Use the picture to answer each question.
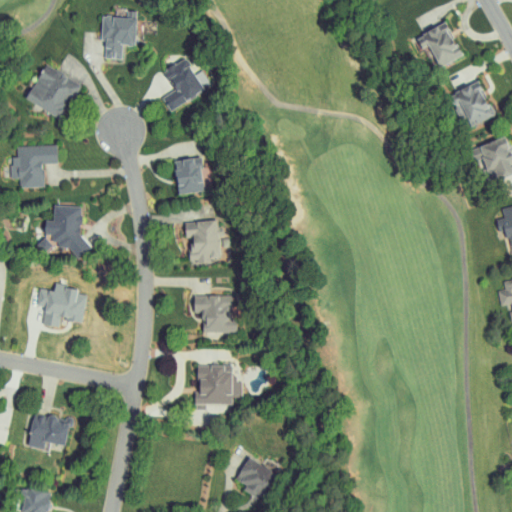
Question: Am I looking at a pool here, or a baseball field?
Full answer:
Visible in the photo is a pool.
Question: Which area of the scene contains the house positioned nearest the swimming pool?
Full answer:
You can find the house positioned nearest the swimming pool in the bottom area of the picture.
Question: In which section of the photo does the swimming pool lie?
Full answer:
Look in the bottom portion of the view to spot the swimming pool.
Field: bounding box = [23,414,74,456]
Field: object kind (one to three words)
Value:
house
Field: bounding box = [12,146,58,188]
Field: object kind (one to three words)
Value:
house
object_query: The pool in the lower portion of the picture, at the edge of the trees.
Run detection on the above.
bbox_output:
[244,366,270,396]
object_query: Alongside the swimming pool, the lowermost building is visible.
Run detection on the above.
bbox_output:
[196,364,243,405]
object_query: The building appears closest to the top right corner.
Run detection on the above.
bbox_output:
[415,19,467,69]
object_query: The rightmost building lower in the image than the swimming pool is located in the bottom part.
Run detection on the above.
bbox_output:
[236,456,273,500]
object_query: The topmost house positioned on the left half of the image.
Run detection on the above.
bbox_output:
[102,11,138,60]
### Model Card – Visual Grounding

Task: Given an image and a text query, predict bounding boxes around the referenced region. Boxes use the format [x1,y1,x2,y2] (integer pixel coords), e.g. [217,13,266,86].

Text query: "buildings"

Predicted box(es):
[184,216,230,264]
[500,280,512,320]
[470,134,512,182]
[161,60,210,112]
[415,19,467,69]
[37,282,87,328]
[194,294,238,333]
[102,11,138,60]
[17,489,54,512]
[23,414,74,456]
[175,158,206,196]
[196,364,243,405]
[236,456,273,500]
[450,80,500,132]
[26,64,83,120]
[46,206,94,262]
[12,146,58,188]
